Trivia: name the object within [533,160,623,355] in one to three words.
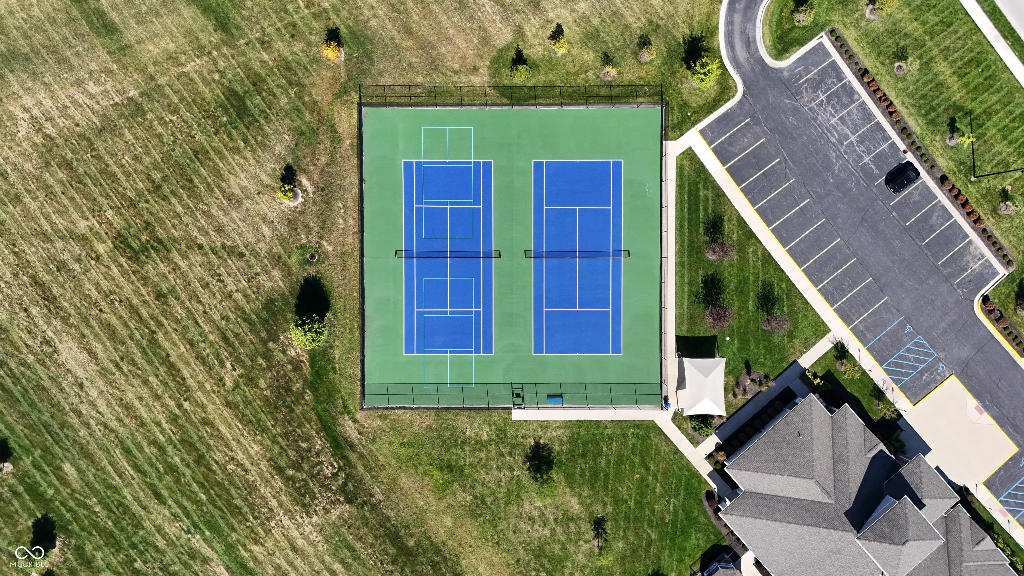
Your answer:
tennis court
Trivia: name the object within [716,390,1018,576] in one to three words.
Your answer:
building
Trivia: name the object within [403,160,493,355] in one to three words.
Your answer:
tennis court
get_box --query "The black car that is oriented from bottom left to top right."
[885,165,922,196]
